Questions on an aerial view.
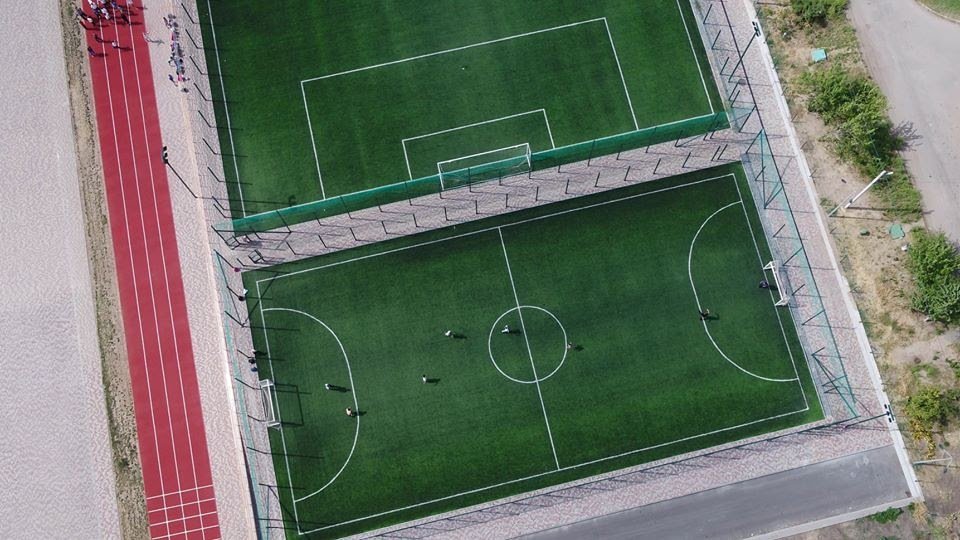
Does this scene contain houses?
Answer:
No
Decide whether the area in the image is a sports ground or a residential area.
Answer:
sports ground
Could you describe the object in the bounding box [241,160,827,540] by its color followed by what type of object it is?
green soccer field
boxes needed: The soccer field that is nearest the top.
[194,0,731,237]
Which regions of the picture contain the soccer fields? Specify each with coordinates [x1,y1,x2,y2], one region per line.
[241,160,827,540]
[194,0,731,237]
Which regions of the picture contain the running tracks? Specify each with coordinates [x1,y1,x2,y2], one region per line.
[79,0,222,540]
